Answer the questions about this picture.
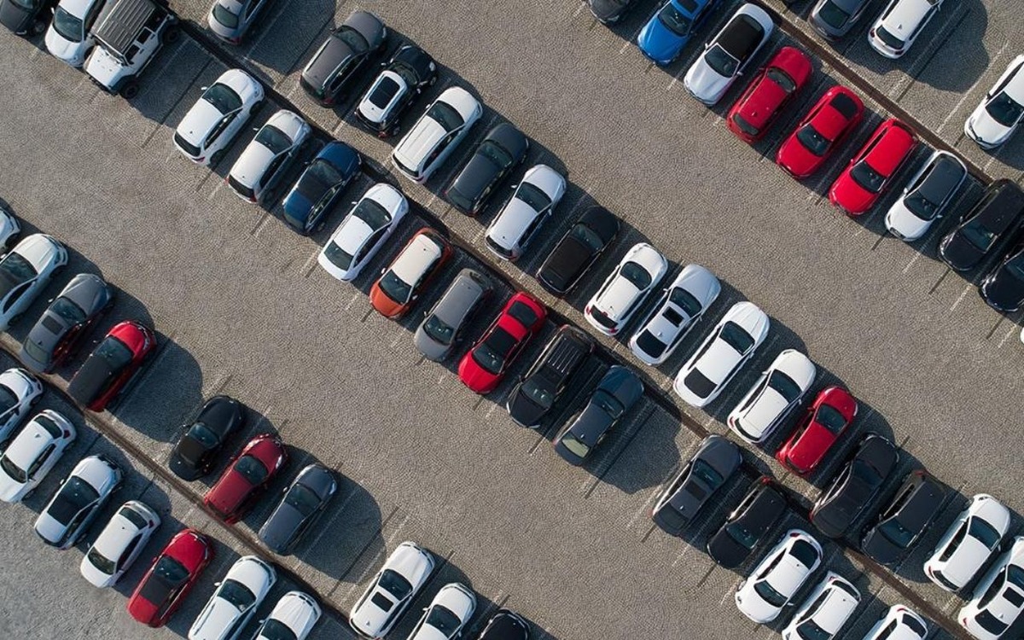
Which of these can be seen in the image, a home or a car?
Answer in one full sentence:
Visible in the photo is a car.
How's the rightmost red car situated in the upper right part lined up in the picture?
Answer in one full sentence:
The rightmost red car situated in the upper right part is oriented diagonally.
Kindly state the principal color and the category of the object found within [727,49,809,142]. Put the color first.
red car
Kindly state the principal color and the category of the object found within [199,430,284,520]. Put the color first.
red car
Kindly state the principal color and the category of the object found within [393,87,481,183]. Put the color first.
white car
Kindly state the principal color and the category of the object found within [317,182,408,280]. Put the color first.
white car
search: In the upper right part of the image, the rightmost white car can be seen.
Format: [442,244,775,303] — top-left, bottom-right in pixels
[967,53,1024,152]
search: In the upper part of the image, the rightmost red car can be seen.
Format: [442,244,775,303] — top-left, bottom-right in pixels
[831,116,921,218]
